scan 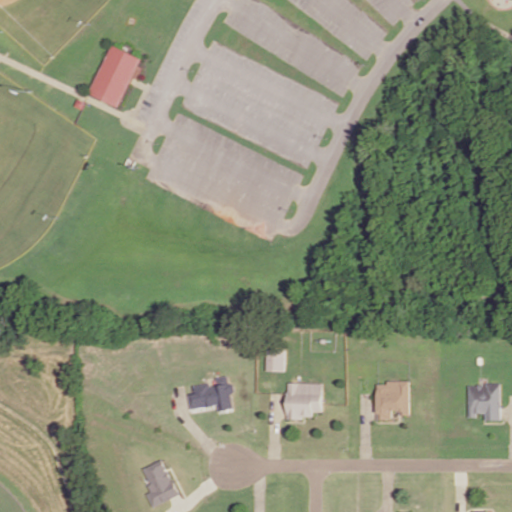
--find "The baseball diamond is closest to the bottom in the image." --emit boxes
[0,72,96,268]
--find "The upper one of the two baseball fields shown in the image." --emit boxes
[0,0,109,67]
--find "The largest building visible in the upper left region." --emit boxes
[90,48,141,107]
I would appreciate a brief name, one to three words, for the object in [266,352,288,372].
shed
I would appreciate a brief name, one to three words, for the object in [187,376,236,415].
house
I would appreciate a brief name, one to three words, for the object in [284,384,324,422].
house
